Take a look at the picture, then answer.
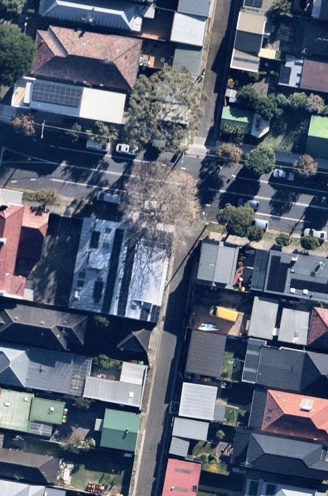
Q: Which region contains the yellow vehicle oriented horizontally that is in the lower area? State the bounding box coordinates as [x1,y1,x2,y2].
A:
[207,304,243,322]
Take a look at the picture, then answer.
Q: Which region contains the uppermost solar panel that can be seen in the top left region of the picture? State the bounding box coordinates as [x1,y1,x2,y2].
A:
[33,81,83,107]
